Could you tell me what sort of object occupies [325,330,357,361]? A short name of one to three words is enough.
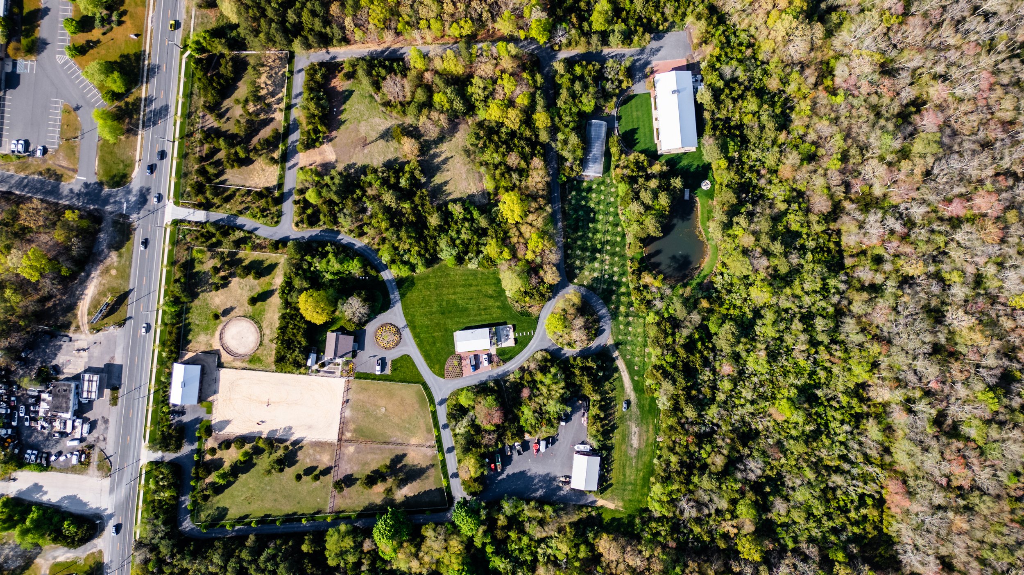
house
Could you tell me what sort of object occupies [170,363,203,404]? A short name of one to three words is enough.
building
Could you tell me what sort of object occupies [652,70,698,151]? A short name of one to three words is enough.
barn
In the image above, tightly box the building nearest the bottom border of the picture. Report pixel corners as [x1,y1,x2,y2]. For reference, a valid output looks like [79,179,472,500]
[570,452,600,491]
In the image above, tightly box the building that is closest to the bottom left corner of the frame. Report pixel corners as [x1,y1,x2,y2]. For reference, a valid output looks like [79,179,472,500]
[40,382,80,419]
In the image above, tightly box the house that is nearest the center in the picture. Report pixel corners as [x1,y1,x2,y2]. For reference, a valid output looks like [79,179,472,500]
[455,328,491,352]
